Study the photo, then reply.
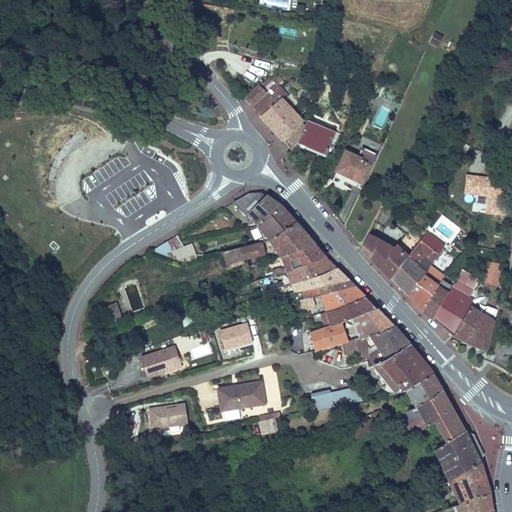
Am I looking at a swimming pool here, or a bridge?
swimming pool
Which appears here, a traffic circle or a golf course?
traffic circle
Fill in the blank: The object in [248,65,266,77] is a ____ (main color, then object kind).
white vehicle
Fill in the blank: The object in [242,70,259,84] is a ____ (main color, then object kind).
white vehicle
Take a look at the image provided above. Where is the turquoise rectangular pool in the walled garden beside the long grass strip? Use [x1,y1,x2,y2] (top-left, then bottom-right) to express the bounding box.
[374,106,391,128]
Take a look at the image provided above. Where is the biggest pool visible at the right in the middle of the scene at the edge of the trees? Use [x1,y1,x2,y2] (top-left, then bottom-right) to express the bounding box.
[432,215,461,244]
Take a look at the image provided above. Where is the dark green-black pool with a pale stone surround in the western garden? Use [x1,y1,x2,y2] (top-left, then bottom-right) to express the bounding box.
[125,280,144,312]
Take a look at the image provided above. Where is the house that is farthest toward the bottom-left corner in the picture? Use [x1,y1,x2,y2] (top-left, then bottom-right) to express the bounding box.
[150,402,188,435]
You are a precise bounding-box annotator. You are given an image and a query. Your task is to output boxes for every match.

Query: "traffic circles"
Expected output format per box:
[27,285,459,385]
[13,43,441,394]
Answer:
[200,120,280,196]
